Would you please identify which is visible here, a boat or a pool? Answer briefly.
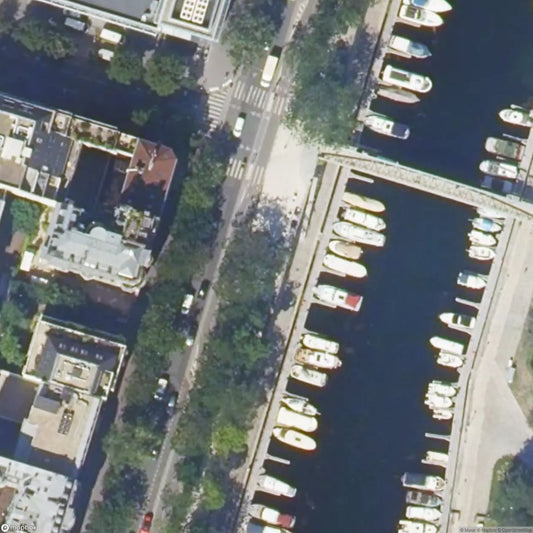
boat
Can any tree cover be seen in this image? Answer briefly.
Yes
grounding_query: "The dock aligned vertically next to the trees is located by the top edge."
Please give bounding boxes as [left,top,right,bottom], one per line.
[361,0,401,134]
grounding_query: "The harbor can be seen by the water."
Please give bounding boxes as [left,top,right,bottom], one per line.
[213,0,533,533]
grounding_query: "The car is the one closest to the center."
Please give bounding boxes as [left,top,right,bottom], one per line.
[198,278,212,298]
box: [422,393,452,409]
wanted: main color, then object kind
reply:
white boat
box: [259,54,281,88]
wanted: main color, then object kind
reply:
white vehicle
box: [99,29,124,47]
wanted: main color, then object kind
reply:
white vehicle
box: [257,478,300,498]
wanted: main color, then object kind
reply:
white boat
